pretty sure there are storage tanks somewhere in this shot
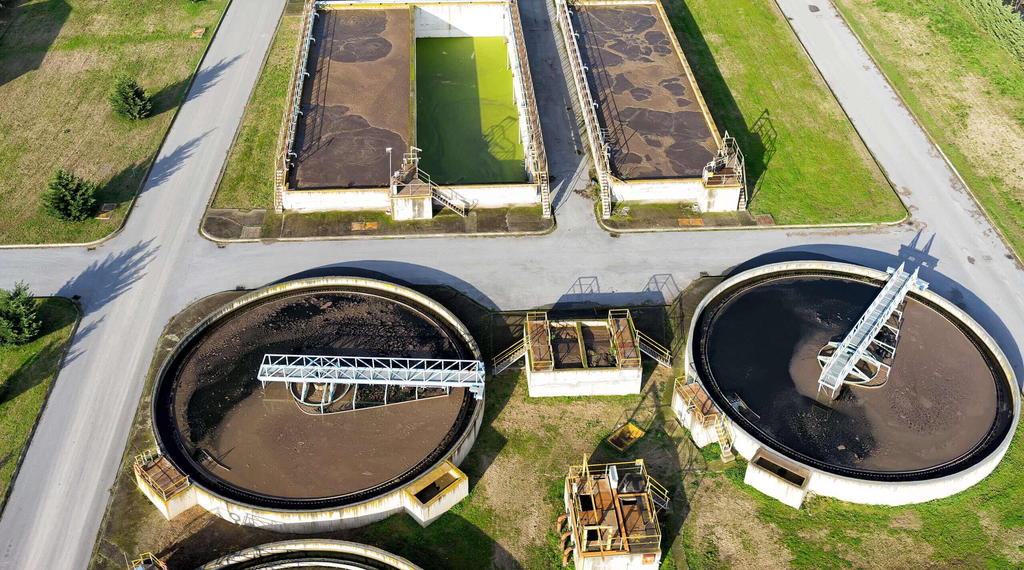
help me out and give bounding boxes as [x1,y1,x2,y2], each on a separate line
[194,539,426,570]
[148,276,486,531]
[685,260,1021,503]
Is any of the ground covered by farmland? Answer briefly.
No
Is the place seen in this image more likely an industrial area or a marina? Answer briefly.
industrial area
